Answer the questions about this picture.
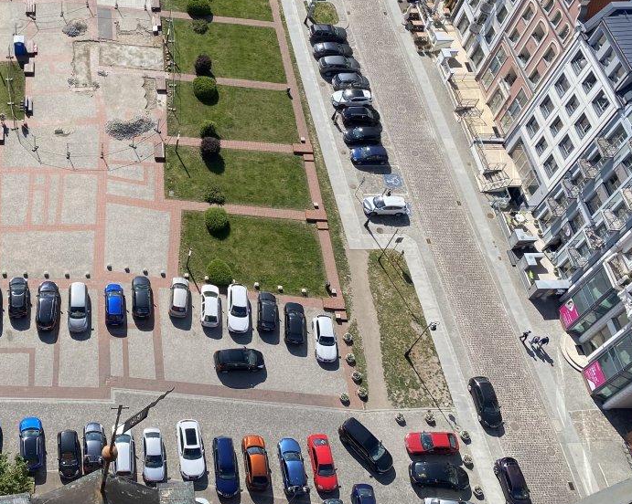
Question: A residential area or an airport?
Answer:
residential area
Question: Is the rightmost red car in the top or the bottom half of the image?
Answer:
bottom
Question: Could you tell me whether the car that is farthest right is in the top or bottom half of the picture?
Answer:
bottom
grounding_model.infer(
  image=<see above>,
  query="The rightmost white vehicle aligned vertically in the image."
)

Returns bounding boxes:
[312,313,339,364]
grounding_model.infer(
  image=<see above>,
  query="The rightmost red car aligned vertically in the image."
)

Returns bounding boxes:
[307,434,340,494]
